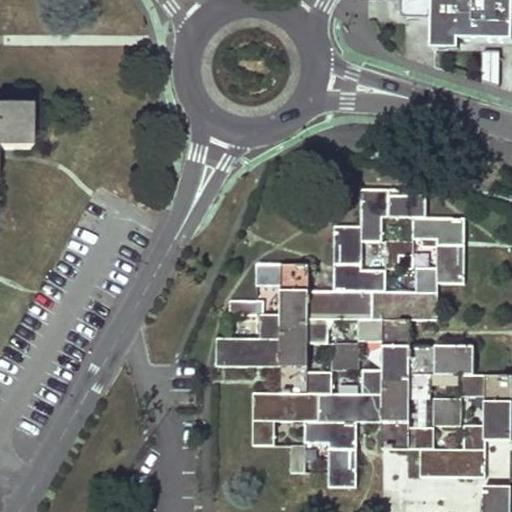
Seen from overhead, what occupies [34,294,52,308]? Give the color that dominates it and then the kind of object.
red car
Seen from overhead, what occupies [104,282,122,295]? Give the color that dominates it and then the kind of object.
white vehicle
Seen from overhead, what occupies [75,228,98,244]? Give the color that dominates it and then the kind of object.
white vehicle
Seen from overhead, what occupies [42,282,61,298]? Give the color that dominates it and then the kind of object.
white car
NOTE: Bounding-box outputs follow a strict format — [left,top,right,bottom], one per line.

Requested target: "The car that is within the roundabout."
[280,109,300,121]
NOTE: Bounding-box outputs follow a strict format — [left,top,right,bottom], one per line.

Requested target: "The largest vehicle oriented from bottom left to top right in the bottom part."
[141,454,158,474]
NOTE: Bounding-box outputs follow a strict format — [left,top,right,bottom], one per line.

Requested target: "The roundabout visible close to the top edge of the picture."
[172,0,331,146]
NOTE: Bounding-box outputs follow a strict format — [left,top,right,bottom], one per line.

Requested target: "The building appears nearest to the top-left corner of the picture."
[0,99,36,152]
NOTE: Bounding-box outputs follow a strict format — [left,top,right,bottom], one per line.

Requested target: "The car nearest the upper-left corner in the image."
[86,202,104,216]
